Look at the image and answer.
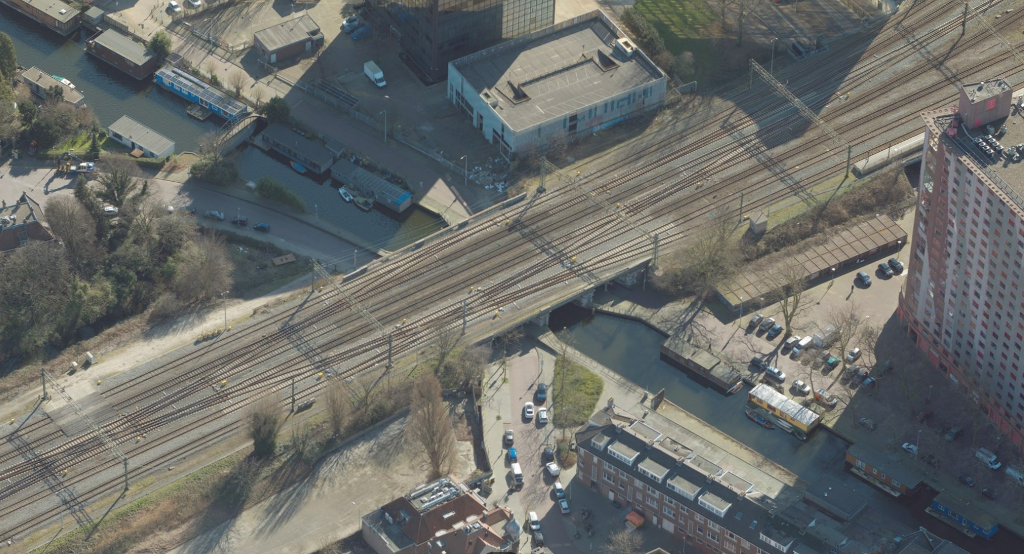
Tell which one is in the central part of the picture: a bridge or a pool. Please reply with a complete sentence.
There is a bridge in the central part of the picture.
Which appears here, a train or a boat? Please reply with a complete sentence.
This aerial view contains a boat.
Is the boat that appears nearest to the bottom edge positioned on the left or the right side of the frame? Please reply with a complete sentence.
The boat that appears nearest to the bottom edge sits on the right side.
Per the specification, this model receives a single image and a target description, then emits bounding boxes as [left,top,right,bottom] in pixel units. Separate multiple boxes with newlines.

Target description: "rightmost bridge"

[343,188,654,343]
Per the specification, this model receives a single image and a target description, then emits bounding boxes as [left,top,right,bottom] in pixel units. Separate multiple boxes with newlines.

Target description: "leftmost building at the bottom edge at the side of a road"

[363,475,529,554]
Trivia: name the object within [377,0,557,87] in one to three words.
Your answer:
building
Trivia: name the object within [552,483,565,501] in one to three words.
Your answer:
vehicle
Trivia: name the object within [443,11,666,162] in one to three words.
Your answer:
building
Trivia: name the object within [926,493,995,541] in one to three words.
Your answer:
boat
